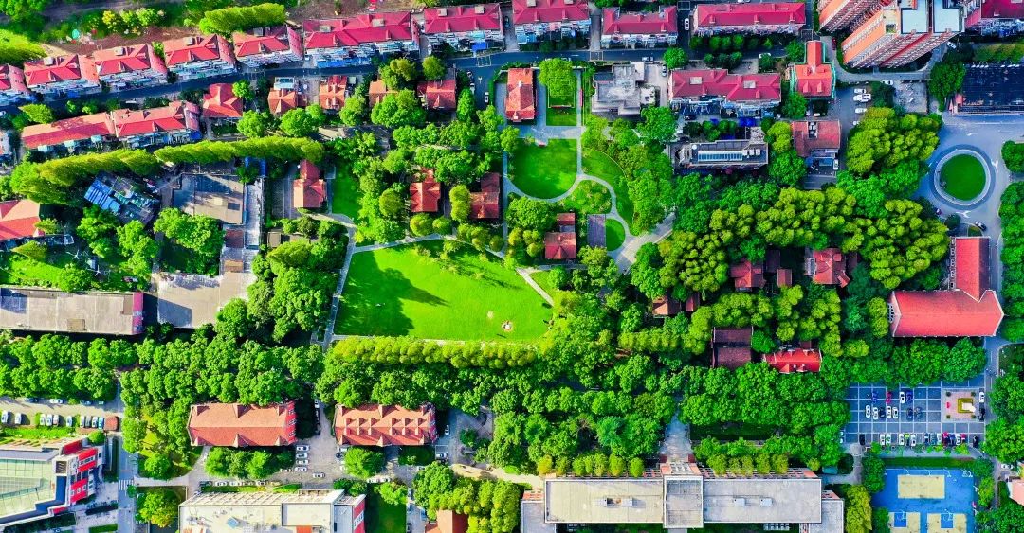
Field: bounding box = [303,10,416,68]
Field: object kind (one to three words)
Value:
building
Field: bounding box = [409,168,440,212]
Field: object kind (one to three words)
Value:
house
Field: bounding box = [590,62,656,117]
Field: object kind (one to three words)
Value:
house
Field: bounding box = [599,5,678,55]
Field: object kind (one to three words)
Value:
building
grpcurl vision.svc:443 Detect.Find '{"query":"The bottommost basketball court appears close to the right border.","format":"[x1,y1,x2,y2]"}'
[873,468,977,533]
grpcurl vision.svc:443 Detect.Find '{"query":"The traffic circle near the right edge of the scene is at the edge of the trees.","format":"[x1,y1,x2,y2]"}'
[929,142,997,211]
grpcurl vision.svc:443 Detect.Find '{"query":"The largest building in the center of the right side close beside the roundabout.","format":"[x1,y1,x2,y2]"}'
[887,236,1004,338]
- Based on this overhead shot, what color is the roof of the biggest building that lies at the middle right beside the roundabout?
red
